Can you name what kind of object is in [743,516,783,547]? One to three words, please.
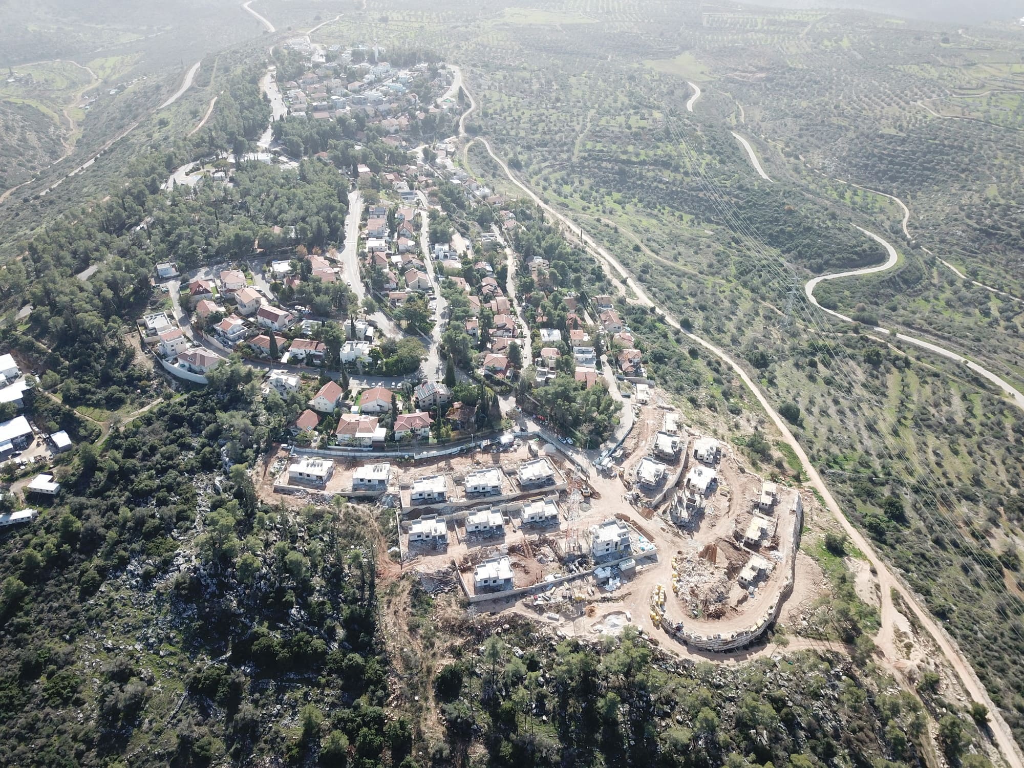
house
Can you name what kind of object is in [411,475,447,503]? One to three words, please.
house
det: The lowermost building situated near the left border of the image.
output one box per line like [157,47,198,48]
[0,502,42,530]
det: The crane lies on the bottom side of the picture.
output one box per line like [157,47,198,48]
[559,445,581,590]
